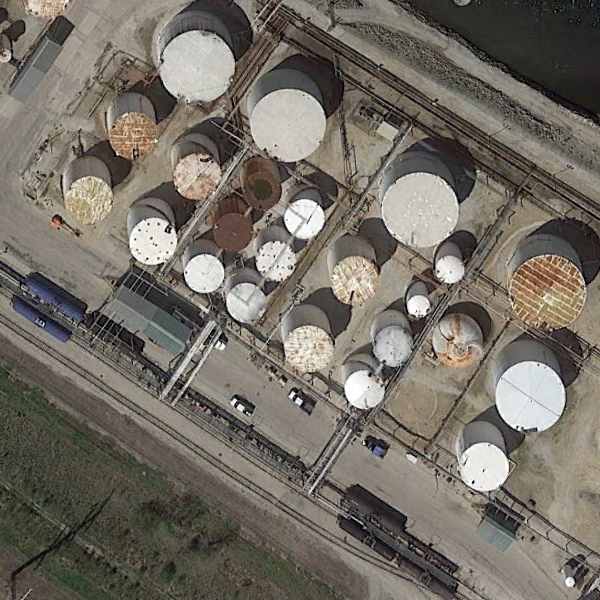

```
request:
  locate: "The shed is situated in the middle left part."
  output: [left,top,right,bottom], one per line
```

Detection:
[92,264,195,358]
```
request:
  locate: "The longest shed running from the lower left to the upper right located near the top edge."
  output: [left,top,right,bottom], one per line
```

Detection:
[10,29,62,102]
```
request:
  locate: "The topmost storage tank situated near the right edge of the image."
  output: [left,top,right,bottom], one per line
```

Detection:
[502,231,587,330]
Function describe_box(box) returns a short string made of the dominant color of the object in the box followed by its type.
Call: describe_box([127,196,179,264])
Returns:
white storage tank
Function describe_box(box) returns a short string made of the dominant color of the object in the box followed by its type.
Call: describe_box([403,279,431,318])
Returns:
white storage tank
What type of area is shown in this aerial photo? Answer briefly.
industrial area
